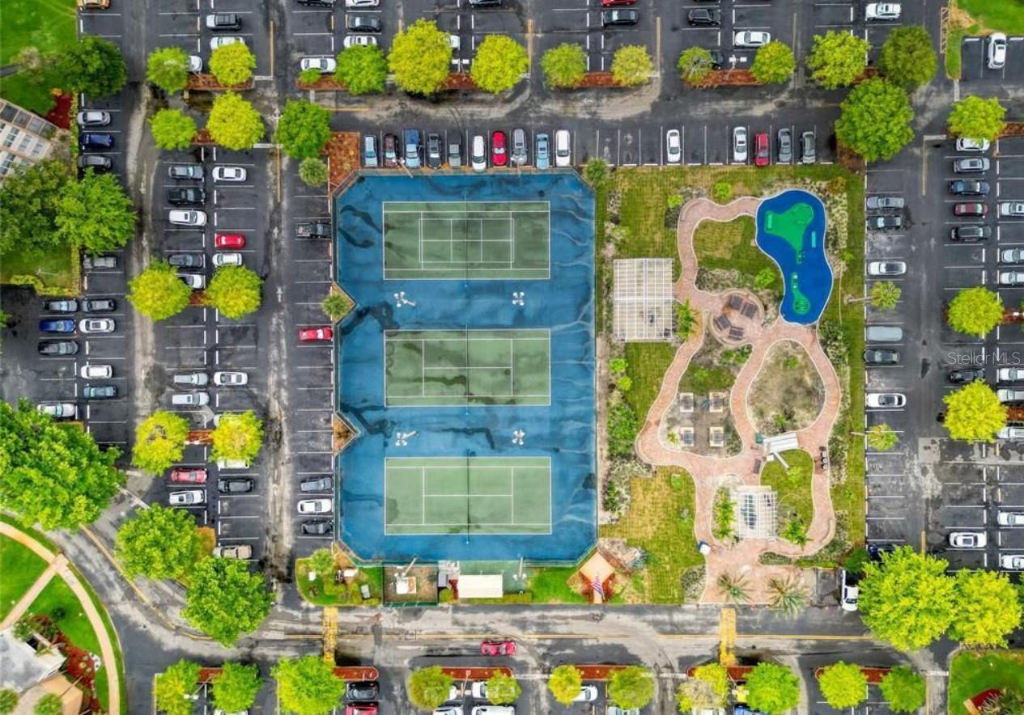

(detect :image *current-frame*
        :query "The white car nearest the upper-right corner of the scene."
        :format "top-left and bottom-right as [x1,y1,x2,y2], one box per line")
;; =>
[987,34,1006,69]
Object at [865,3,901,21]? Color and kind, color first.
white car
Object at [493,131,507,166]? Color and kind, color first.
red car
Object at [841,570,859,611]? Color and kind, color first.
white vehicle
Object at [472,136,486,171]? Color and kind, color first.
white car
